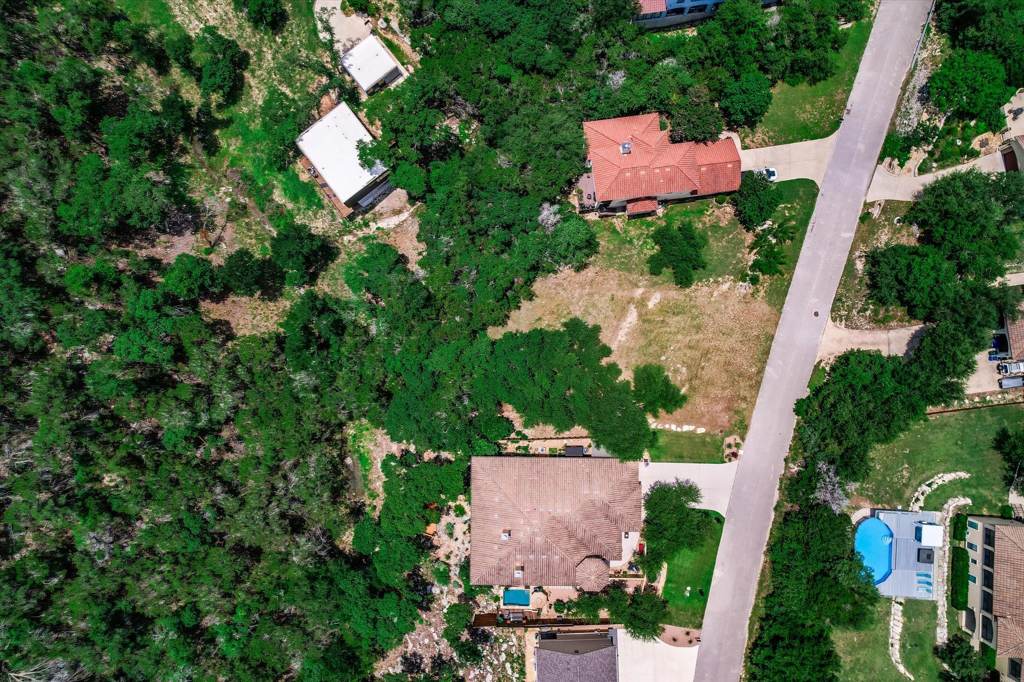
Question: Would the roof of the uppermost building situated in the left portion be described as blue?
No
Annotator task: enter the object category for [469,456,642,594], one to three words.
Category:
house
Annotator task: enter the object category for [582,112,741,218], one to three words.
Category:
house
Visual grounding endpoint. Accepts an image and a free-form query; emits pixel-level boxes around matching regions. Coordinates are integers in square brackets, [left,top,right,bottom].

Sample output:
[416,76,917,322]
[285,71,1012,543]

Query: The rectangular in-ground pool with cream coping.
[498,586,535,611]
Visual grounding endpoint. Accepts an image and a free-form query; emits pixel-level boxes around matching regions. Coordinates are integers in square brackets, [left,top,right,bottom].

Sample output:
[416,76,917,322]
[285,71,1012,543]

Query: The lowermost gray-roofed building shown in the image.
[536,630,618,682]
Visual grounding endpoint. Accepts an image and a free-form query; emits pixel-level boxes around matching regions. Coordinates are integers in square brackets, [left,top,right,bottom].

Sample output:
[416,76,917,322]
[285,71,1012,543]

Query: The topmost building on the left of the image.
[341,33,399,96]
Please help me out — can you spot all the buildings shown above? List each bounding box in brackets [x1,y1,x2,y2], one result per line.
[565,445,582,456]
[582,112,741,218]
[1004,300,1024,360]
[341,33,399,96]
[631,0,794,28]
[961,518,1024,682]
[998,126,1024,183]
[536,630,618,682]
[469,456,642,594]
[296,102,394,209]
